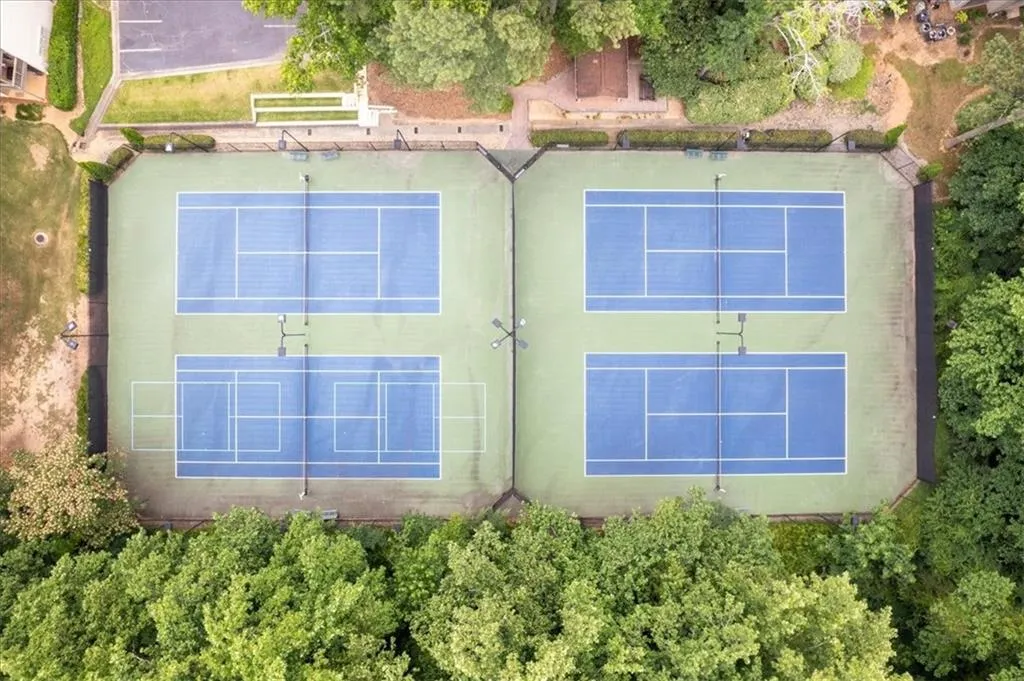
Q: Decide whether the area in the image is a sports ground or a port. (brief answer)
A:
sports ground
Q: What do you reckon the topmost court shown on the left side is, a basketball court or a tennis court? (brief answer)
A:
tennis court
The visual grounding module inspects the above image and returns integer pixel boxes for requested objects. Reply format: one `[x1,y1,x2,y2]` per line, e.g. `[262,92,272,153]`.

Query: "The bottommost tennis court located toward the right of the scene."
[514,335,917,520]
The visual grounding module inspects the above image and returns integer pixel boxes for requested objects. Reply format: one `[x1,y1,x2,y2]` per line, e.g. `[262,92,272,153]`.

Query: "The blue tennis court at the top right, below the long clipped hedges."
[514,151,916,335]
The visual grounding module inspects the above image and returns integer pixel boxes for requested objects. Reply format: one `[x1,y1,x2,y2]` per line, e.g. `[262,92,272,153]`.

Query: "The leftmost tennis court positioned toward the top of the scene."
[108,151,513,335]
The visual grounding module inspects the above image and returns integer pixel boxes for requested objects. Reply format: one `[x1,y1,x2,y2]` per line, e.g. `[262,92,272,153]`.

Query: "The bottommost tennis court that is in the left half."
[108,335,513,519]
